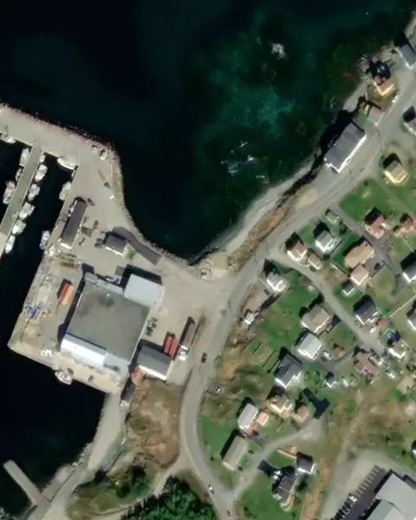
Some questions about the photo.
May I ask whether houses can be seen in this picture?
Yes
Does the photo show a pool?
No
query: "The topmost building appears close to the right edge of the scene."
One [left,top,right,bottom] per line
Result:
[397,42,416,70]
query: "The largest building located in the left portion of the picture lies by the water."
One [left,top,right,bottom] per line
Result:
[61,272,163,381]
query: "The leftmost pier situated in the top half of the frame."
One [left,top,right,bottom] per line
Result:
[0,145,44,261]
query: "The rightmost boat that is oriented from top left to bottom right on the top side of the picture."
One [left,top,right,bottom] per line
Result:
[57,157,76,171]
